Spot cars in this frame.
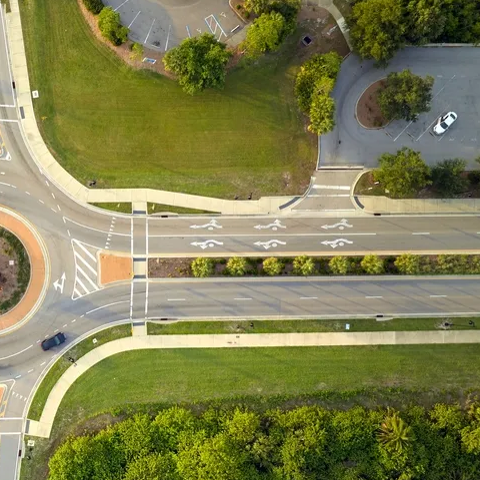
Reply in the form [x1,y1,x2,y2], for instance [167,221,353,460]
[431,109,459,136]
[41,332,66,351]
